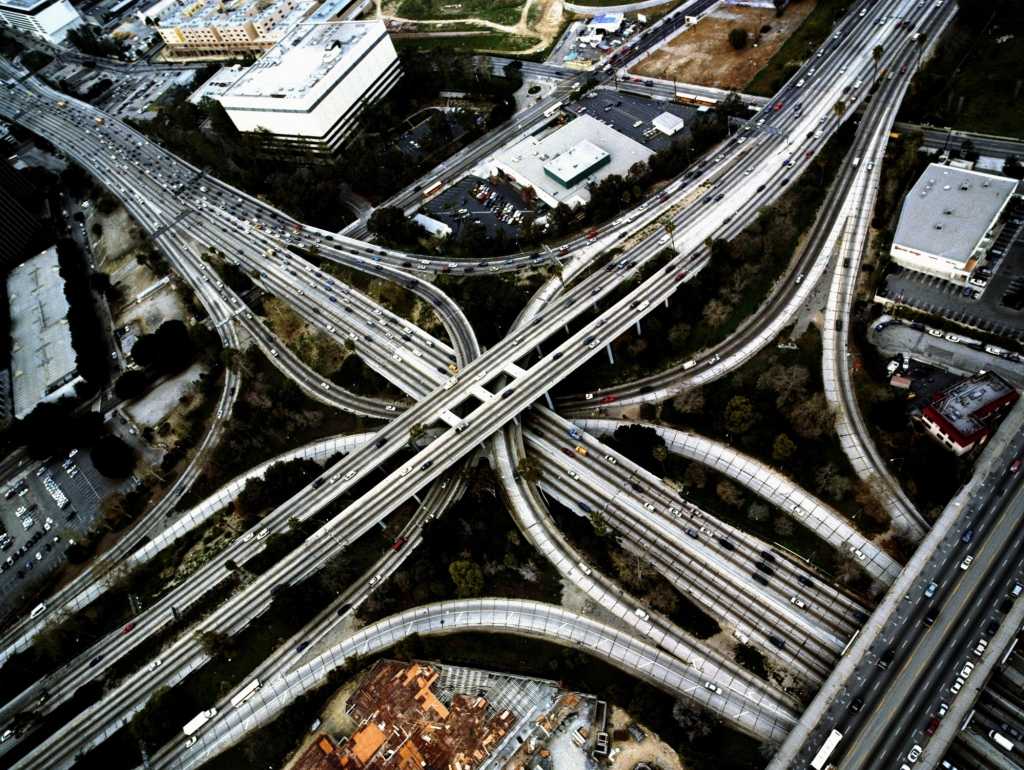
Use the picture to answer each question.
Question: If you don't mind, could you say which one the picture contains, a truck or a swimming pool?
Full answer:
Of the two, only a truck appears.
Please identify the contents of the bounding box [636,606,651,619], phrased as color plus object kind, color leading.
white vehicle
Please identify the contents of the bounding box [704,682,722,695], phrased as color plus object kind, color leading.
white vehicle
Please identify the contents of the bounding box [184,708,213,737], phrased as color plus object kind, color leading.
white truck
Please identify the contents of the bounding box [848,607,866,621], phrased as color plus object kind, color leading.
black car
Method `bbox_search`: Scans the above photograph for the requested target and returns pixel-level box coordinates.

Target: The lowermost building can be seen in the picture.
[289,656,561,770]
